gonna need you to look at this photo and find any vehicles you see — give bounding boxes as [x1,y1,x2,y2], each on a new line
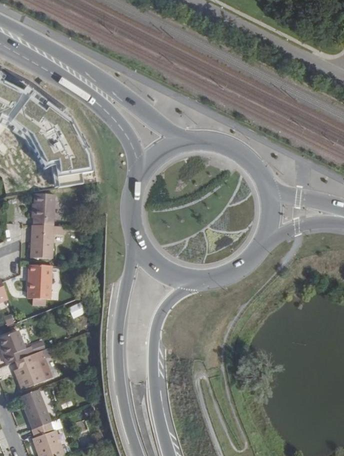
[138,240,148,251]
[134,230,142,240]
[118,334,123,344]
[149,263,160,273]
[56,76,94,104]
[4,230,10,240]
[331,200,344,207]
[11,262,16,272]
[234,259,244,267]
[134,180,140,198]
[124,96,136,106]
[7,38,18,47]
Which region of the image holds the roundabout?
center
